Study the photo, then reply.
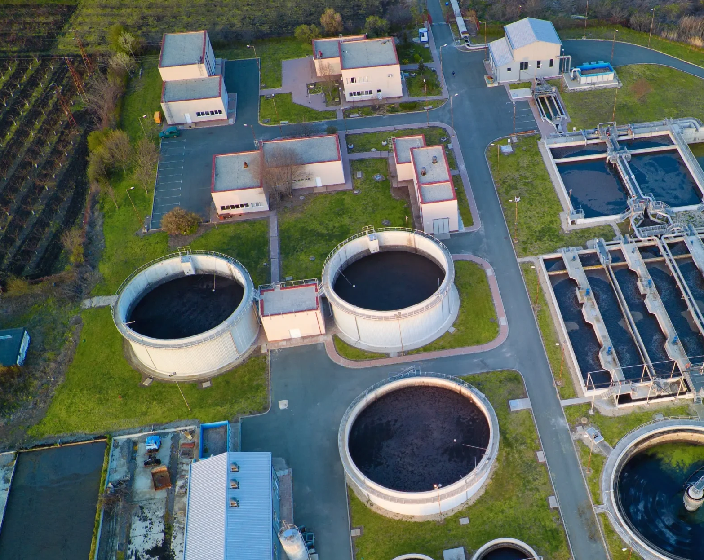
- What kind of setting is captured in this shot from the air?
industrial area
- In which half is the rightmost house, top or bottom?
top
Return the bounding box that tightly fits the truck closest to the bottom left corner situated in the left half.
[139,429,162,470]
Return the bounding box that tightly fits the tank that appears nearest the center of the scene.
[319,221,460,352]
